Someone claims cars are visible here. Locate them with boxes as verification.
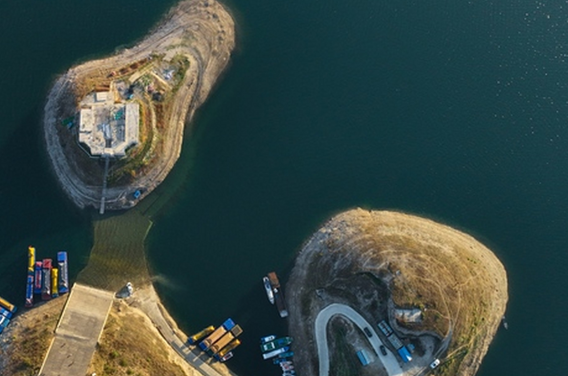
[364,328,373,339]
[430,359,440,370]
[380,346,387,356]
